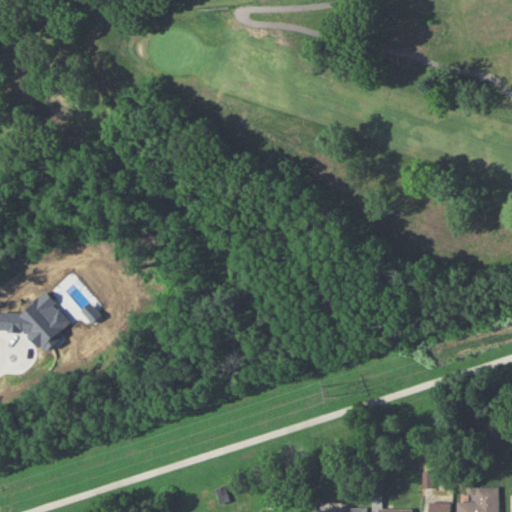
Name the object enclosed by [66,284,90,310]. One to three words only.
swimming pool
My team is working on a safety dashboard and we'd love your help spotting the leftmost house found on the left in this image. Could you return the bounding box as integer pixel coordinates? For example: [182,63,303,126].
[0,293,71,352]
